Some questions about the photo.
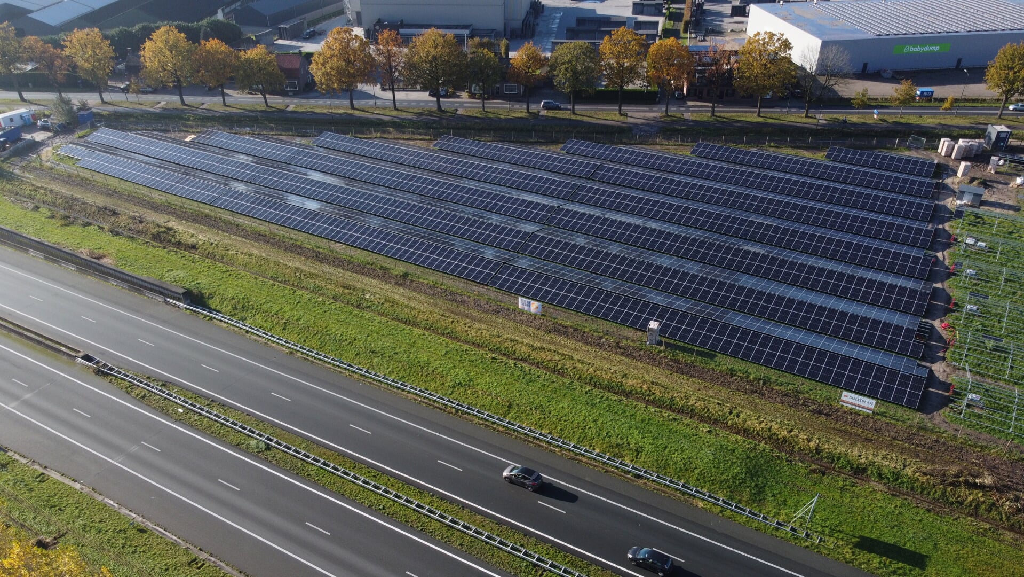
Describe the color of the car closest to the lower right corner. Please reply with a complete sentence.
In this view, the car closest to the lower right corner is black.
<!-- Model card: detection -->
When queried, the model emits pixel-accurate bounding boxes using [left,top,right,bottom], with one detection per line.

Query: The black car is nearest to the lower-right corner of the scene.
[627,543,677,575]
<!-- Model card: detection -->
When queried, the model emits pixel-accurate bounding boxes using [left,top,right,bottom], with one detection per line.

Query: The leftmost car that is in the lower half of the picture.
[503,464,546,491]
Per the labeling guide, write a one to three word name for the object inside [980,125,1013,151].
building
